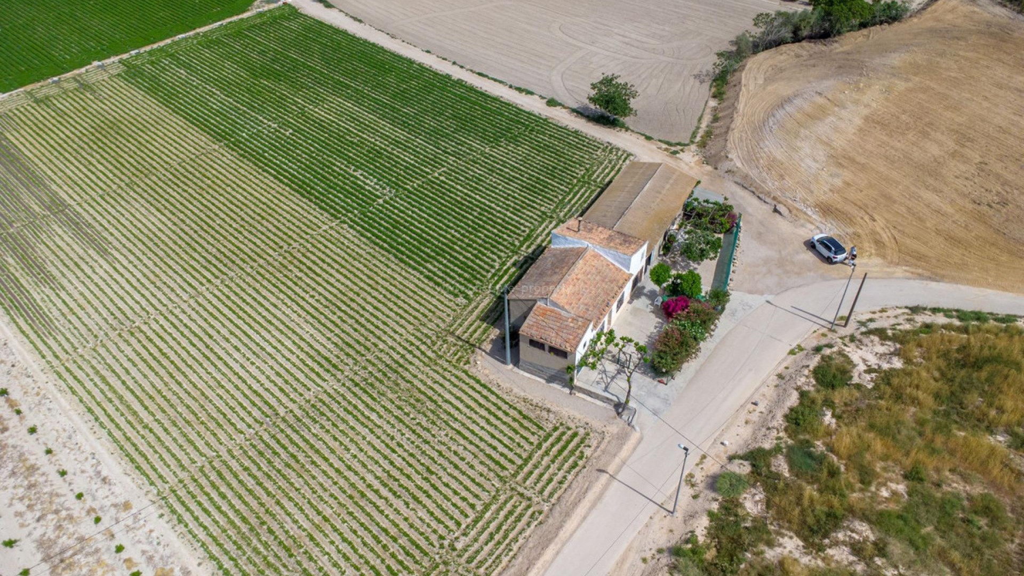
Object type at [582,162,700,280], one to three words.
barn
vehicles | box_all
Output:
[810,235,850,264]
